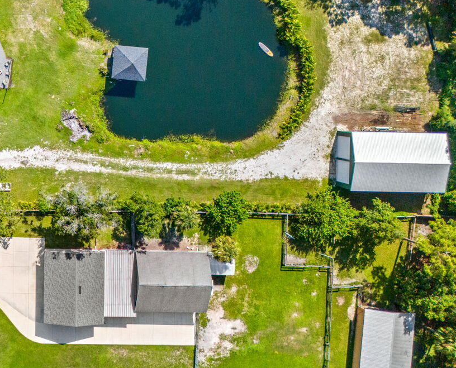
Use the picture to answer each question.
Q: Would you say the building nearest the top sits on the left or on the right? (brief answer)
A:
left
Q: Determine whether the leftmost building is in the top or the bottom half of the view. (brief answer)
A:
bottom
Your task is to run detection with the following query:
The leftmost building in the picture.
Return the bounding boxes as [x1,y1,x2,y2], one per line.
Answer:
[42,249,104,327]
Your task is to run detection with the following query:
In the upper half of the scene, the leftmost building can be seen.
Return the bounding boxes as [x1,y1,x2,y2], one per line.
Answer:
[110,45,149,81]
